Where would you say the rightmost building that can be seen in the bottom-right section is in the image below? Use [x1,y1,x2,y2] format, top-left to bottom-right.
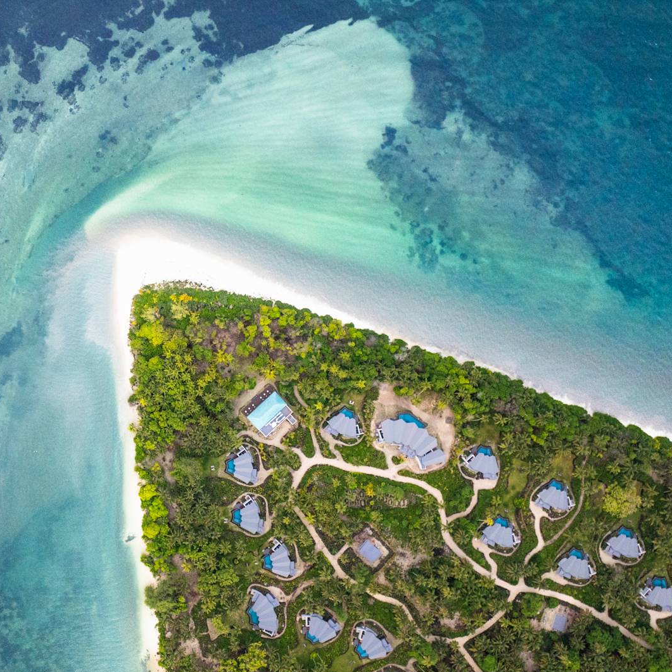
[639,575,672,610]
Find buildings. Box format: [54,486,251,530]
[463,443,500,478]
[554,545,596,578]
[360,540,381,560]
[604,525,647,558]
[247,589,284,636]
[376,411,446,469]
[260,540,294,578]
[327,404,367,437]
[535,476,576,511]
[552,614,569,632]
[350,628,391,660]
[481,514,522,547]
[299,613,340,646]
[639,575,672,610]
[241,386,297,437]
[224,445,258,483]
[230,496,265,534]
